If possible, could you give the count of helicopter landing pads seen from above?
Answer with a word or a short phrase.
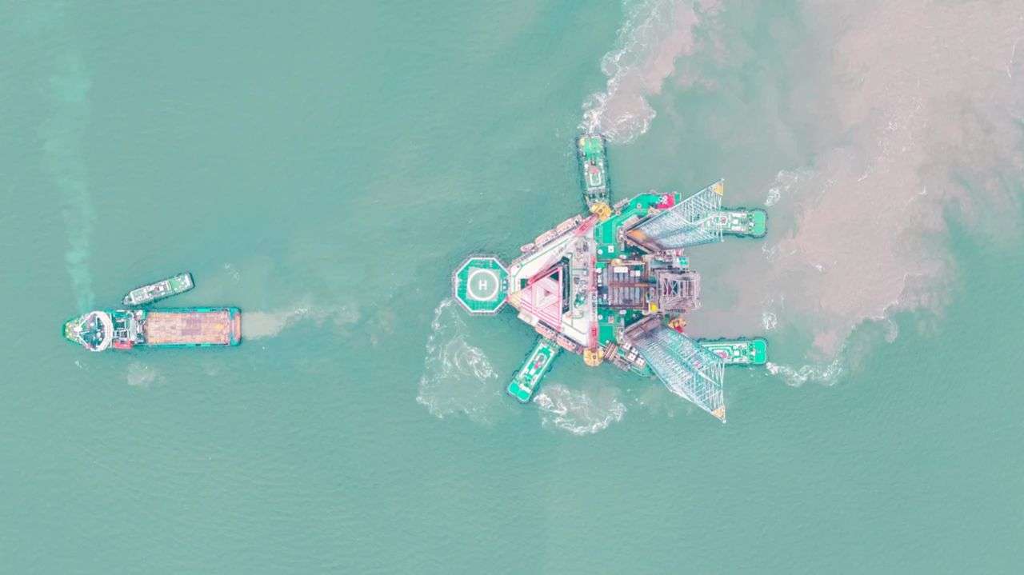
one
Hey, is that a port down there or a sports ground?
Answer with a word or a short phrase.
port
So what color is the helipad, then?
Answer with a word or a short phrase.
white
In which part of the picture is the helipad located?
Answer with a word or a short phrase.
center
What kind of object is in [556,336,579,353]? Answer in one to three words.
boat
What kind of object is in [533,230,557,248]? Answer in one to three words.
boat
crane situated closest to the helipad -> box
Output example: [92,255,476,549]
[527,199,611,284]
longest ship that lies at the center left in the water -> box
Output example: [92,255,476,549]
[63,305,243,351]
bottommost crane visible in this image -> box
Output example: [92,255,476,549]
[583,248,603,368]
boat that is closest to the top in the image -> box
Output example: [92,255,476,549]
[578,132,612,212]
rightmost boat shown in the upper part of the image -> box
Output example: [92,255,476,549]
[688,206,768,238]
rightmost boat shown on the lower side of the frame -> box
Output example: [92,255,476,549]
[690,336,769,370]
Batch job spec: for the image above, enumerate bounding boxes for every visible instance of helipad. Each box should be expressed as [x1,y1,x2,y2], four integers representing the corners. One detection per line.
[452,254,513,316]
